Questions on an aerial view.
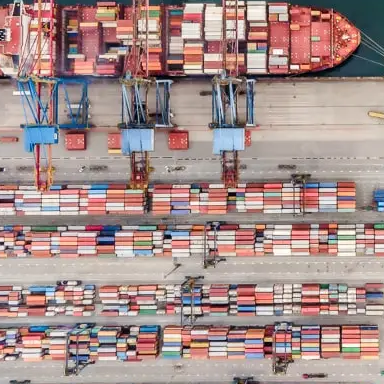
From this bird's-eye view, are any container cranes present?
Yes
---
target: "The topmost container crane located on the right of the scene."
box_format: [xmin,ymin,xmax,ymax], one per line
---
[209,0,267,185]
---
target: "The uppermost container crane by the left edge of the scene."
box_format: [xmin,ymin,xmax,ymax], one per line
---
[14,0,101,192]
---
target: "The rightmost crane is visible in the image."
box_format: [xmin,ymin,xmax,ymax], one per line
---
[289,173,312,220]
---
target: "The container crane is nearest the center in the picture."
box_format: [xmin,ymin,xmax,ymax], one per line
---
[201,220,226,269]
